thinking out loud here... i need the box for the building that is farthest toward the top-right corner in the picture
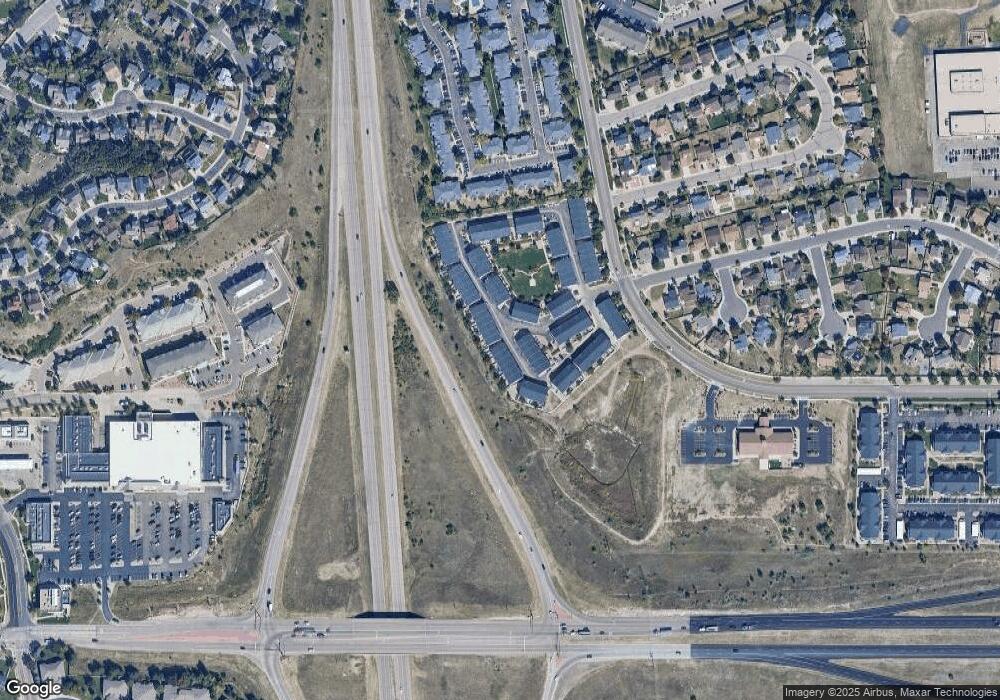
[937,52,1000,140]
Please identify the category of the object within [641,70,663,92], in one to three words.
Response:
house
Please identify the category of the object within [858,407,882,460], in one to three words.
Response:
building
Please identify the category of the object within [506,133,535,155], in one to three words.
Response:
building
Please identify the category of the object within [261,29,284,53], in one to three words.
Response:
house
